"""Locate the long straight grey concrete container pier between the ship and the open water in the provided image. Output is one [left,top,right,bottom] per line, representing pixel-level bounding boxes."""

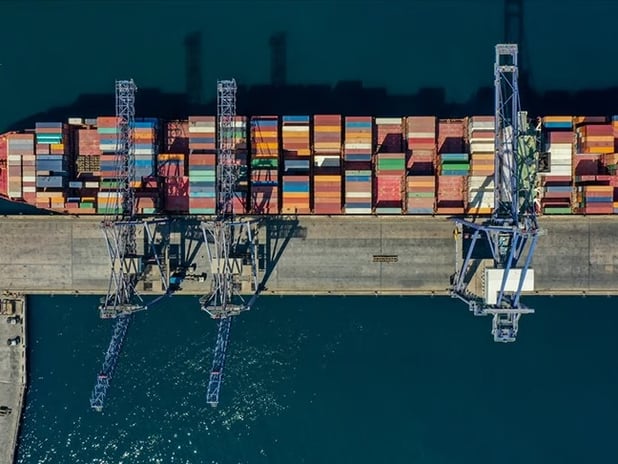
[0,217,618,294]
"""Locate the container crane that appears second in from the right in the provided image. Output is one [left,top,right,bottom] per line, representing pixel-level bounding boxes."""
[202,75,267,412]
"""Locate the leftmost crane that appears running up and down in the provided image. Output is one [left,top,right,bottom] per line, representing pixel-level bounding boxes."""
[88,75,179,412]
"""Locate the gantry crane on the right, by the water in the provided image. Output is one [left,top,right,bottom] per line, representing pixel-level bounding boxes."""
[448,45,546,345]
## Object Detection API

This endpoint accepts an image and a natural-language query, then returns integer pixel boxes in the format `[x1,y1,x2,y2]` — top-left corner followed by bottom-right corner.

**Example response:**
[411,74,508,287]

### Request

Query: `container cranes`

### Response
[448,45,546,345]
[88,75,179,412]
[202,75,267,412]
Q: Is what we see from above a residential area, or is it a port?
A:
port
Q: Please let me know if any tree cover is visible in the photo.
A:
No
